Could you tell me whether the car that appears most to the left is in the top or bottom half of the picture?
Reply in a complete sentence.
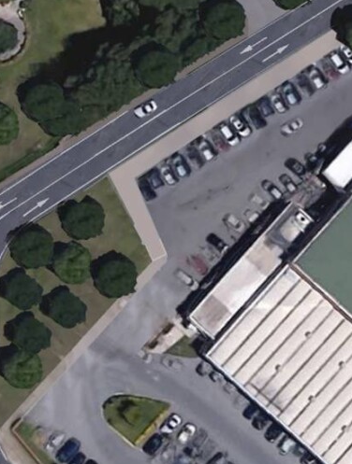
Seen from above, the car that appears most to the left lies in the bottom half of the view.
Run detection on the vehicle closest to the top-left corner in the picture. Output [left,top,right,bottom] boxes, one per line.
[133,98,158,118]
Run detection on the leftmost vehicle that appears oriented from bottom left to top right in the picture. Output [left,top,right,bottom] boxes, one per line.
[44,429,65,452]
